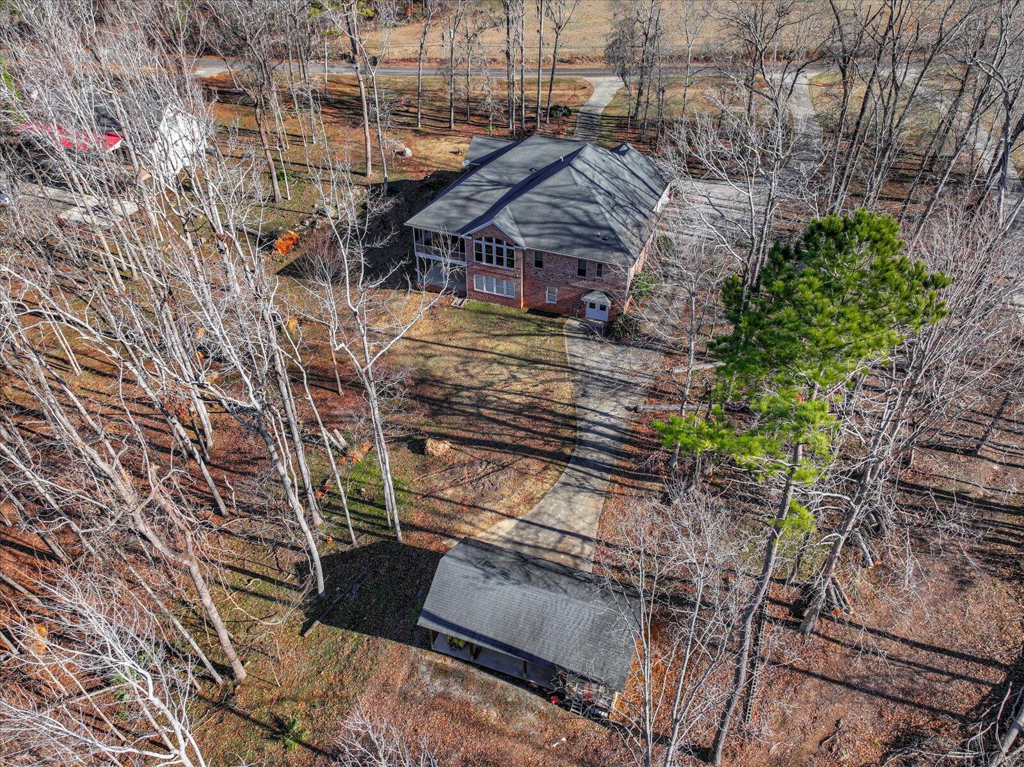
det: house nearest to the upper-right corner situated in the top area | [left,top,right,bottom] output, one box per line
[395,135,680,328]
